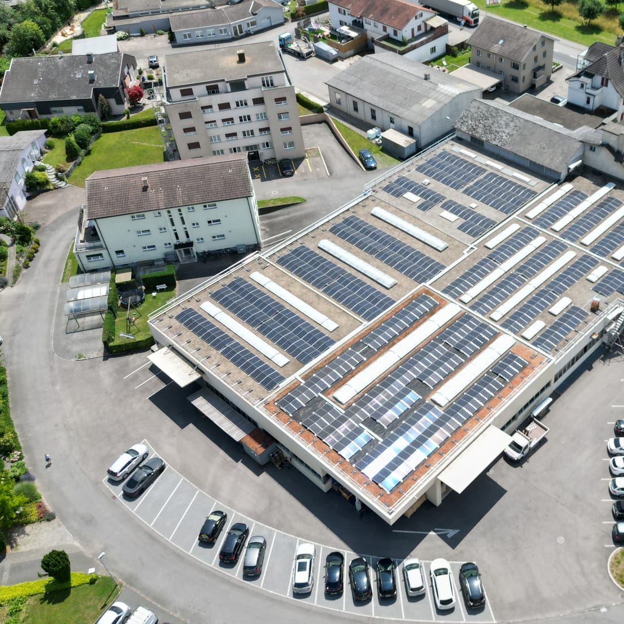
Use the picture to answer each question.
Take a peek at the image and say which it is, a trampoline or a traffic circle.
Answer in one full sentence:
It is a trampoline that can be seen here.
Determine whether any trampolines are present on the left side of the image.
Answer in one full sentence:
Yes, you'll find a trampoline on the left side of the image.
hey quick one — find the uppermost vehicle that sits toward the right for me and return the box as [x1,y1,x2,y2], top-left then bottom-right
[418,0,479,25]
